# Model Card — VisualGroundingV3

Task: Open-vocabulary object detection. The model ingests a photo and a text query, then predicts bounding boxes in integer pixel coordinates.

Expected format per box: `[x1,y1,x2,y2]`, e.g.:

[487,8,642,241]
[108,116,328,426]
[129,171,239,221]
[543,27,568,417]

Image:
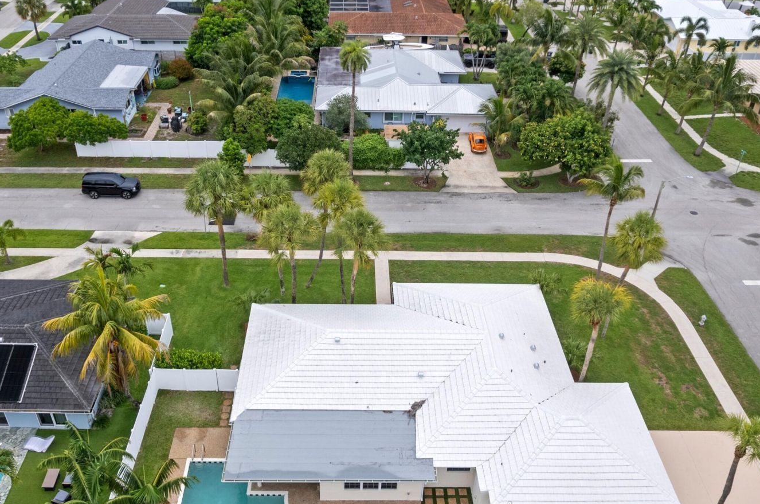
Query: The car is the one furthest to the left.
[80,171,145,200]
